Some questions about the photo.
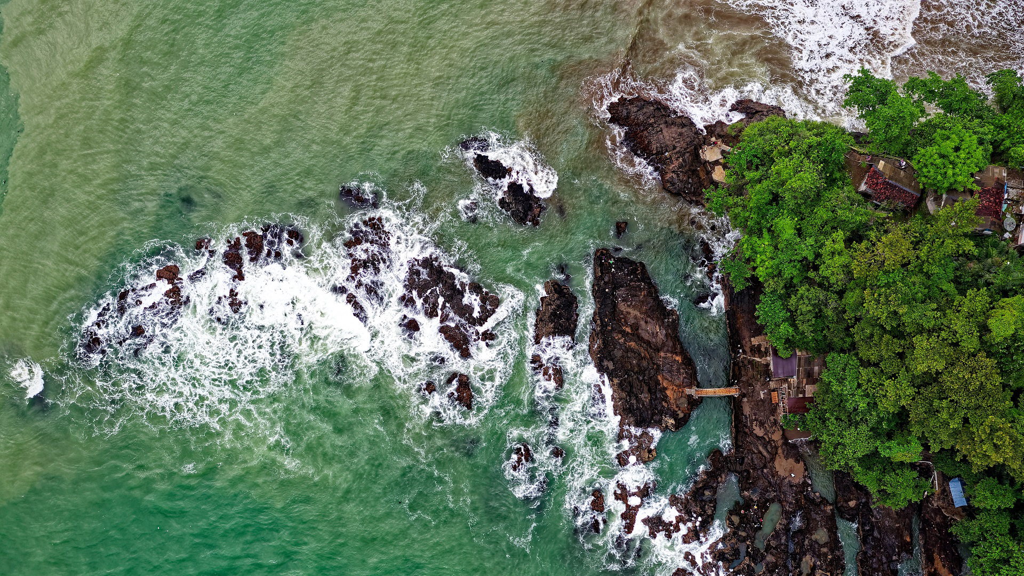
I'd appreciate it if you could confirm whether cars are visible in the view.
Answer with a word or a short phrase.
No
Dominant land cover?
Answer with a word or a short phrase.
water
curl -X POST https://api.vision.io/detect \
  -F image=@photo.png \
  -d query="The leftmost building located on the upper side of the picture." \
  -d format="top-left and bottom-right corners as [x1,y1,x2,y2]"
[857,160,921,212]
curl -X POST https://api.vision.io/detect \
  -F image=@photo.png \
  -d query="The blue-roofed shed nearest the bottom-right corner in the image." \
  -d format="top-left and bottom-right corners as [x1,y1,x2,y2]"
[942,477,966,507]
